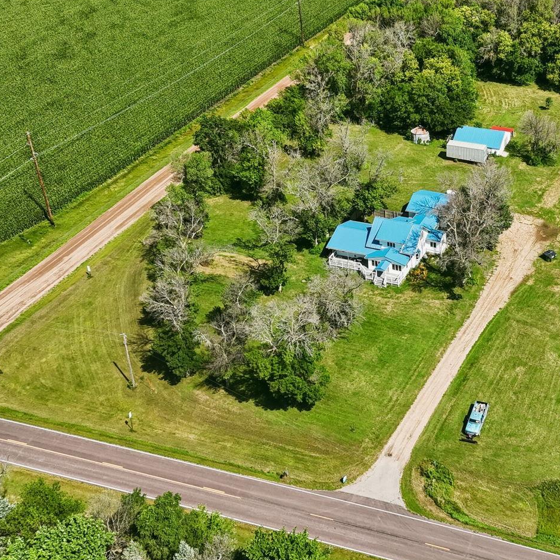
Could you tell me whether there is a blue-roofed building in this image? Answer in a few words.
Yes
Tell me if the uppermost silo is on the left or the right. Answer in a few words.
right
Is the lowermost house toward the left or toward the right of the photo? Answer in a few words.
right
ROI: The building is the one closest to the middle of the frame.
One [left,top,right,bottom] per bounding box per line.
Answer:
[326,189,454,290]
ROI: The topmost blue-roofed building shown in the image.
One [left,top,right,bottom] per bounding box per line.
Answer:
[454,125,510,157]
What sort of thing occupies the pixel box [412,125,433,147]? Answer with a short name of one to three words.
silo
